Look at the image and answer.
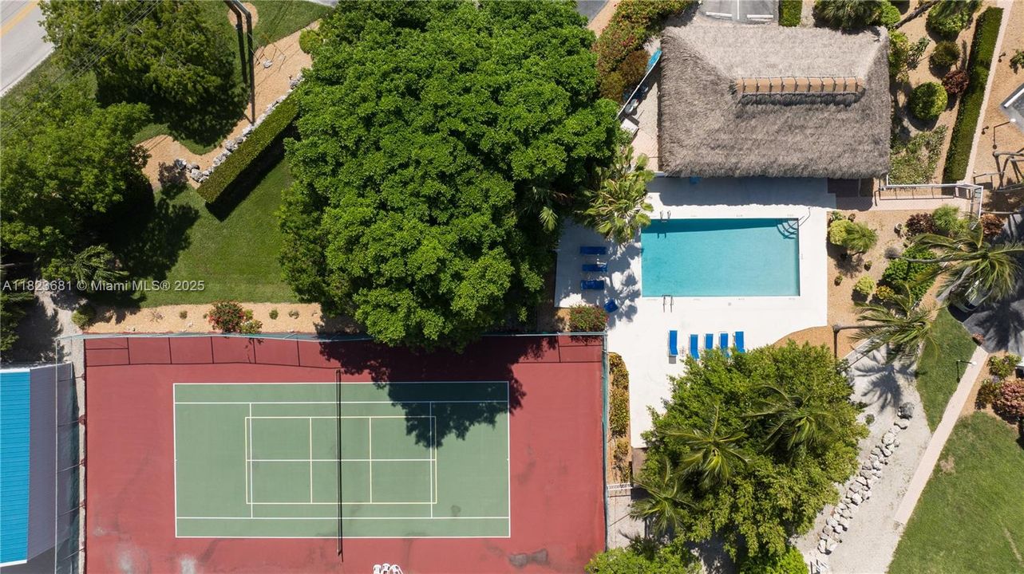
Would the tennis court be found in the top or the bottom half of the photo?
bottom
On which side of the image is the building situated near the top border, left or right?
right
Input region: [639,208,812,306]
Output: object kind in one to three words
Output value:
swimming pool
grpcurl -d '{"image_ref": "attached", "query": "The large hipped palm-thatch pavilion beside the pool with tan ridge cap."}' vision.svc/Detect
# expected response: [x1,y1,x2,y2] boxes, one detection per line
[656,21,894,179]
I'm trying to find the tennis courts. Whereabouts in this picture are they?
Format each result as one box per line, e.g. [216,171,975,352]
[84,331,606,574]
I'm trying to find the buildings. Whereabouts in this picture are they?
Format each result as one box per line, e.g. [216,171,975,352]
[656,21,894,179]
[0,366,70,565]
